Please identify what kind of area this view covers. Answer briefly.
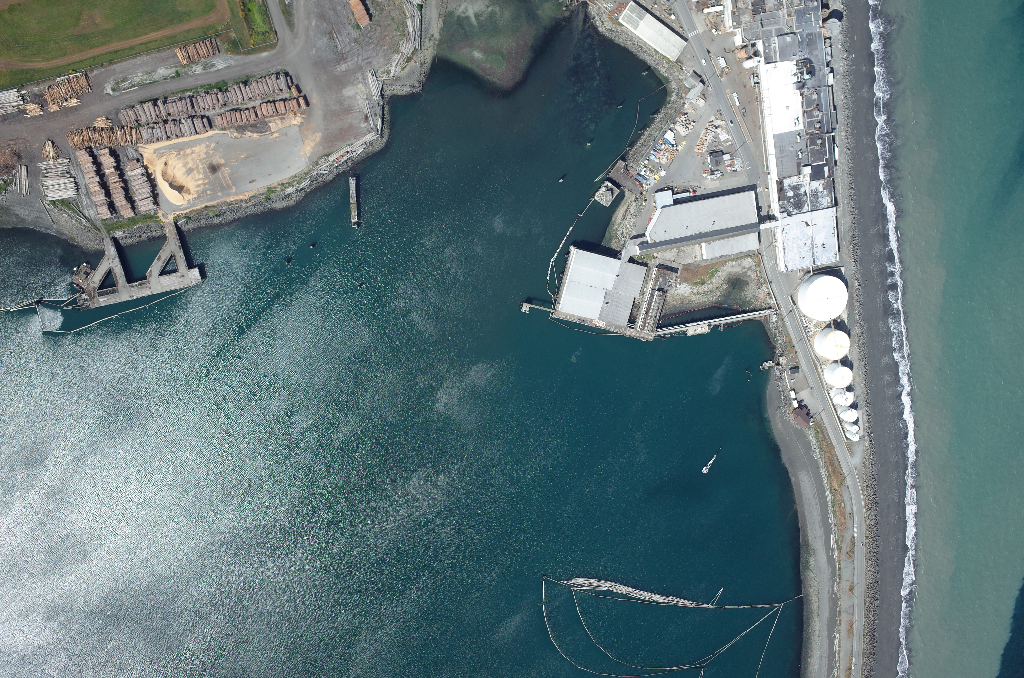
port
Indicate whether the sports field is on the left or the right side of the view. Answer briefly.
left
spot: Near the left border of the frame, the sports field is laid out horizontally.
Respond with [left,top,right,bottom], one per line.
[0,0,275,89]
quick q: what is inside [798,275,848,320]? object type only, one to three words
storage tank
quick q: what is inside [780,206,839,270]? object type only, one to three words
building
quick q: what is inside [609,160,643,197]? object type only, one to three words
pier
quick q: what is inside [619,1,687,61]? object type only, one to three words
building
